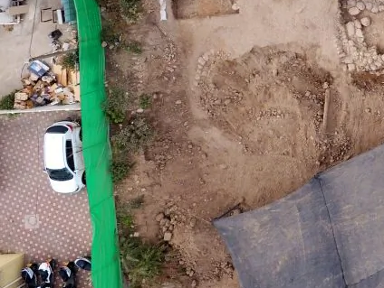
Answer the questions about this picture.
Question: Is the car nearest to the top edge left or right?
left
